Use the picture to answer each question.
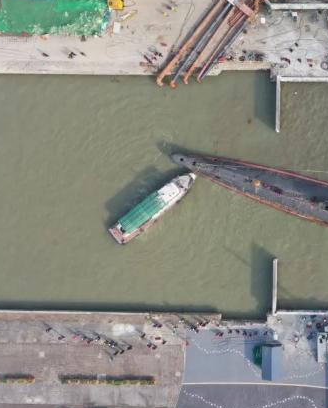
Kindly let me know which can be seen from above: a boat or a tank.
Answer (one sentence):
Looking from above, you can make out a boat.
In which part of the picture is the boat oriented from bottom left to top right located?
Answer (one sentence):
The boat oriented from bottom left to top right is in the center part of the image.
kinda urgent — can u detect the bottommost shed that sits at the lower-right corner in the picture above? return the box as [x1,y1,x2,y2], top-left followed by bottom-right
[260,341,286,382]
